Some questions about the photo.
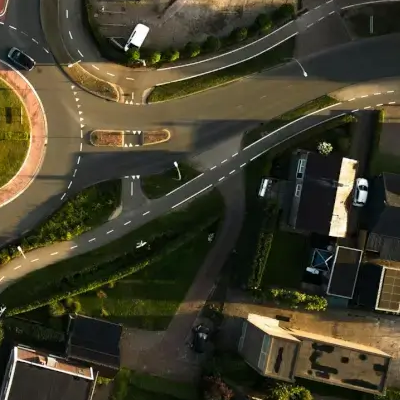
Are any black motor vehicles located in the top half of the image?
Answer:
Yes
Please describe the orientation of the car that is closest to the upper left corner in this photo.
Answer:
diagonally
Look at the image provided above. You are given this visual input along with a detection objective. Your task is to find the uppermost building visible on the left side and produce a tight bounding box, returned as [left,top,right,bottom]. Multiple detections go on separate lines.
[63,310,122,367]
